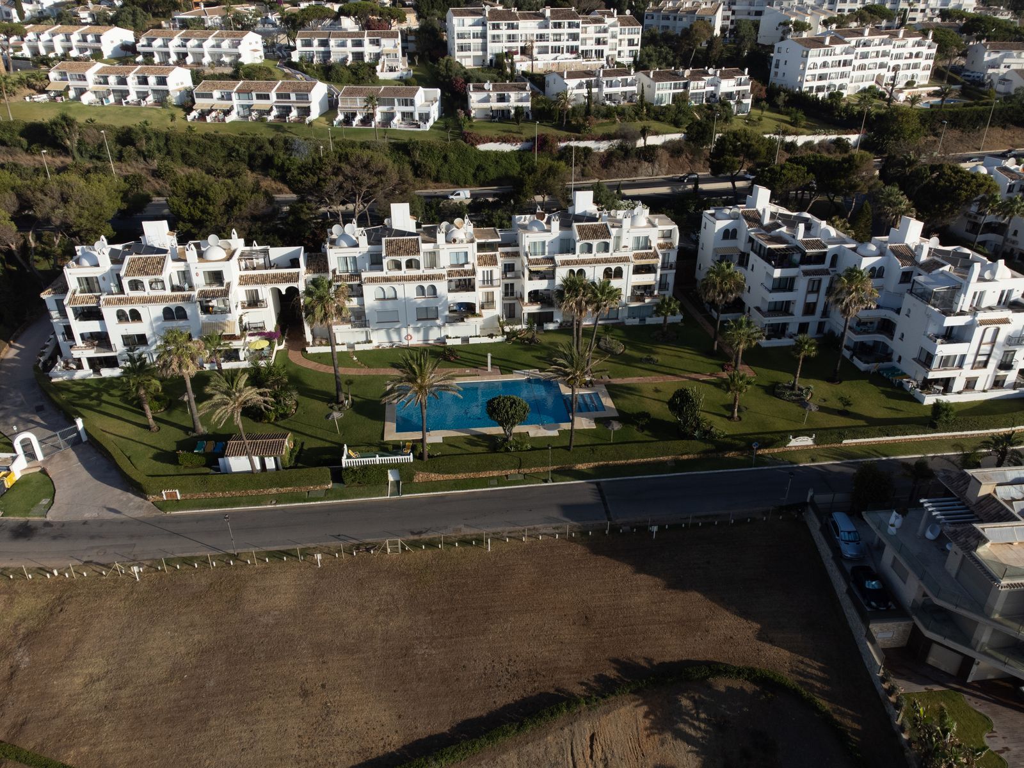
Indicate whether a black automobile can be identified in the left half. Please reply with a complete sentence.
No, the scene shows no black automobile in the left half.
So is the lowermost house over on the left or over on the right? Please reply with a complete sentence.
You can find the lowermost house on the right side of the picture.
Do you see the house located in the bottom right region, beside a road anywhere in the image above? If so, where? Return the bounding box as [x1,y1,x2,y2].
[862,461,1024,692]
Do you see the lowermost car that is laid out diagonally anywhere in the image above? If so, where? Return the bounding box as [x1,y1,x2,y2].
[851,559,900,609]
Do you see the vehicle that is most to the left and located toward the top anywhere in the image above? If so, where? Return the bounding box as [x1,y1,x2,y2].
[447,186,470,198]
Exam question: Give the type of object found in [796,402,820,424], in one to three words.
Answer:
umbrella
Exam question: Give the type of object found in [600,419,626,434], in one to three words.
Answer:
umbrella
